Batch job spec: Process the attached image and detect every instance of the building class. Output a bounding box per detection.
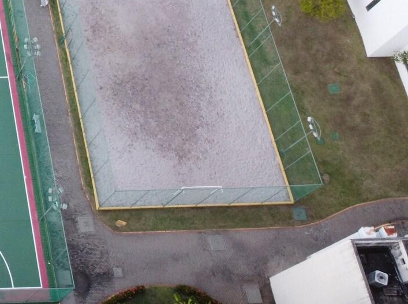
[352,0,408,56]
[268,220,408,304]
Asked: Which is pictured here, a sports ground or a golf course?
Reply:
sports ground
